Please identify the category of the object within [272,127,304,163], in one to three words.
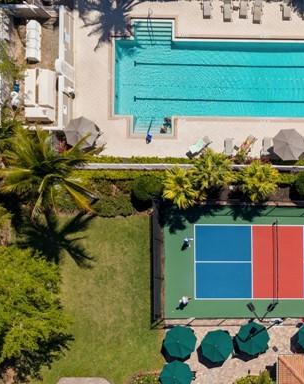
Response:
umbrella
